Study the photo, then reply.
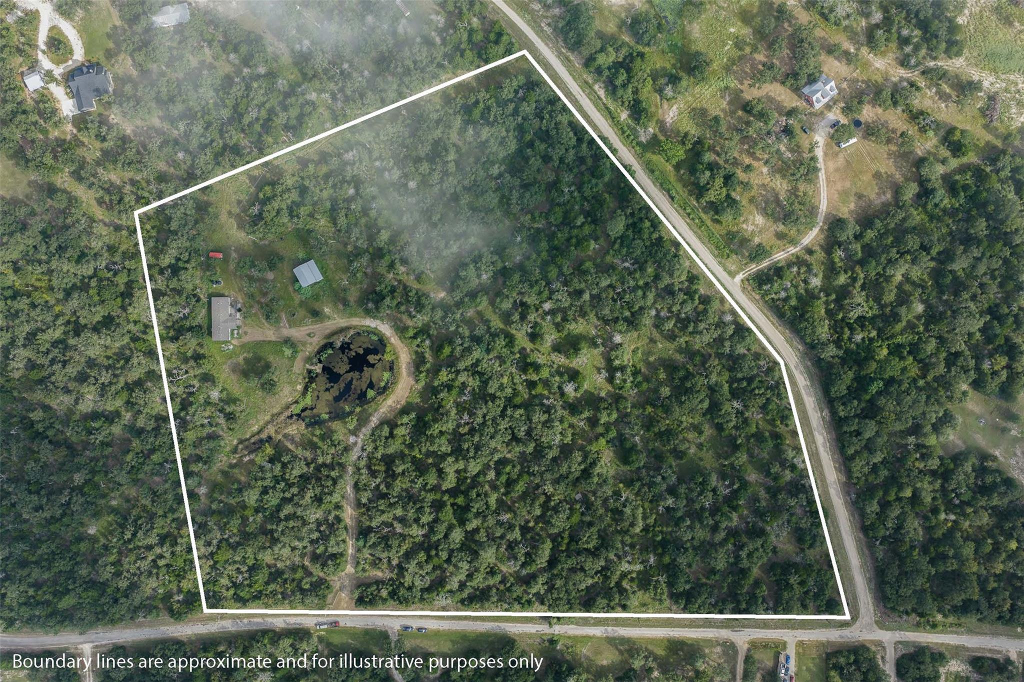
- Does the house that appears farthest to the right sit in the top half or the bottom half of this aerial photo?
top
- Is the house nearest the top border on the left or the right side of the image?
left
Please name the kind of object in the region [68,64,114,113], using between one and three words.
house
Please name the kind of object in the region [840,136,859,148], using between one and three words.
vehicle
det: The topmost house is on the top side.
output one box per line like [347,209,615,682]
[150,3,191,29]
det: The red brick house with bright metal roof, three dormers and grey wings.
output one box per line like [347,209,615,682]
[799,74,838,112]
